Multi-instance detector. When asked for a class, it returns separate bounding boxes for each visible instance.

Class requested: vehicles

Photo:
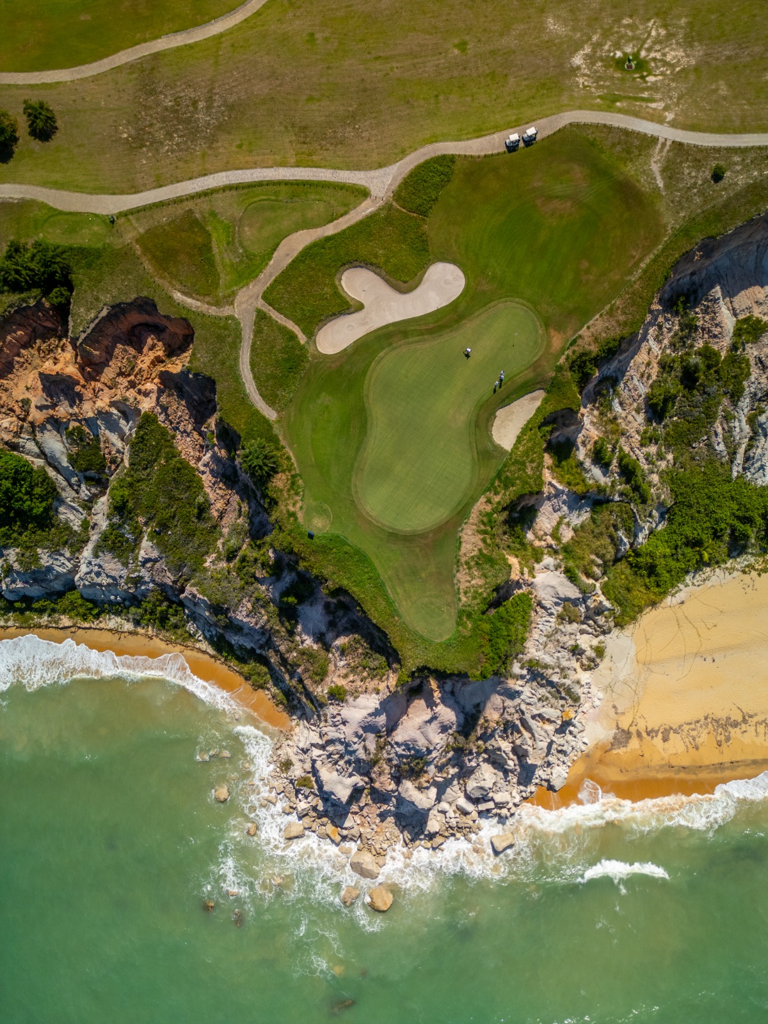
[506,130,523,145]
[524,124,540,140]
